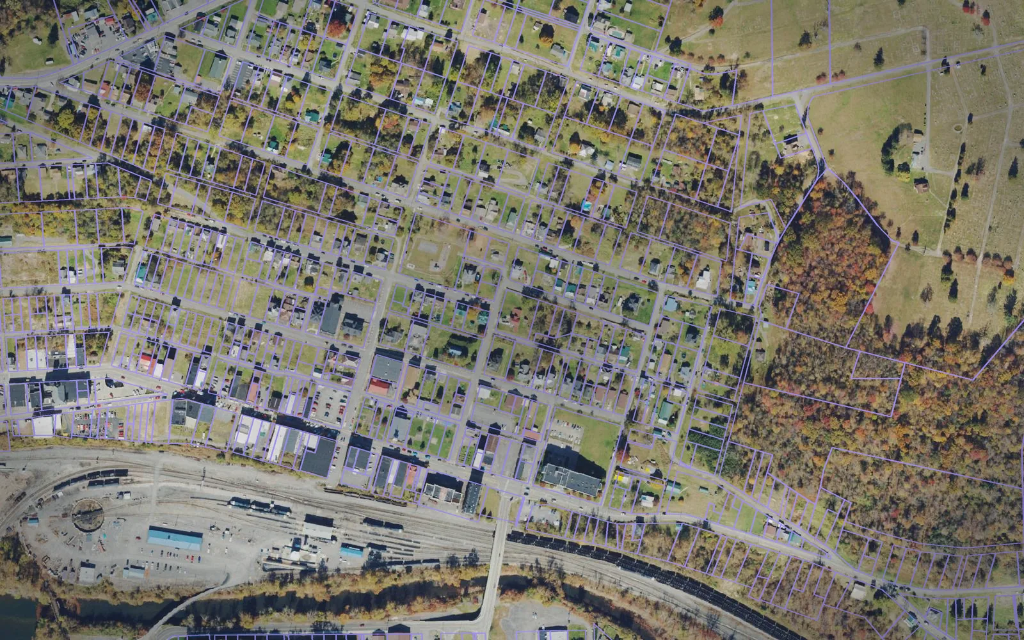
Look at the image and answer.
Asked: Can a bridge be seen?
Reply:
Yes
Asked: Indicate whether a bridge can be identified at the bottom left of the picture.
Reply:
Yes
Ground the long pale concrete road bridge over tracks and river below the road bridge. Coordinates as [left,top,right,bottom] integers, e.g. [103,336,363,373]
[480,491,514,616]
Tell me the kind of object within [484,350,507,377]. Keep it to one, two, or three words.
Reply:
house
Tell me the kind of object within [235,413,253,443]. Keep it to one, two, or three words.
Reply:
building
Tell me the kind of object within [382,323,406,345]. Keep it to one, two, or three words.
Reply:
house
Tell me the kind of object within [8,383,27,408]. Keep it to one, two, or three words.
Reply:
building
